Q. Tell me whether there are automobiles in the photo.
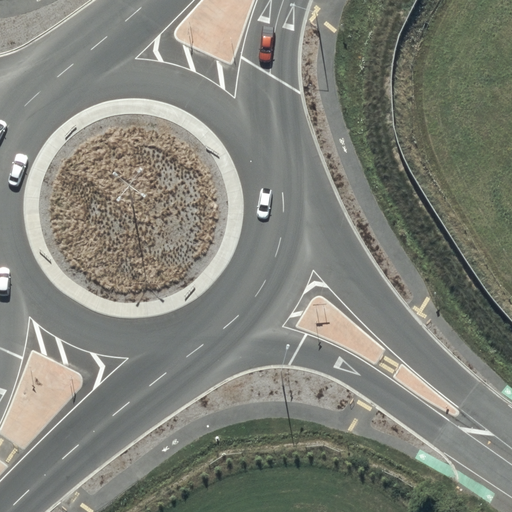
Yes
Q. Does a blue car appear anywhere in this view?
No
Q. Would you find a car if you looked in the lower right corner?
No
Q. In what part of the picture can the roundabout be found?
left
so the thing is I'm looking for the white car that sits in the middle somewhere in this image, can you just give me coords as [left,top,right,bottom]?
[256,188,274,222]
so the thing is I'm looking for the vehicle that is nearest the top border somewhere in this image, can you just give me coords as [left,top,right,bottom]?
[258,27,274,65]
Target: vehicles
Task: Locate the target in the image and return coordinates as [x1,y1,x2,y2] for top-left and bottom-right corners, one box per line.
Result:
[0,120,7,141]
[8,154,27,188]
[0,266,10,299]
[258,27,274,65]
[256,188,274,222]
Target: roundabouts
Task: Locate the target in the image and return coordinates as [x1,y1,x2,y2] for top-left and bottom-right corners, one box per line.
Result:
[24,99,244,318]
